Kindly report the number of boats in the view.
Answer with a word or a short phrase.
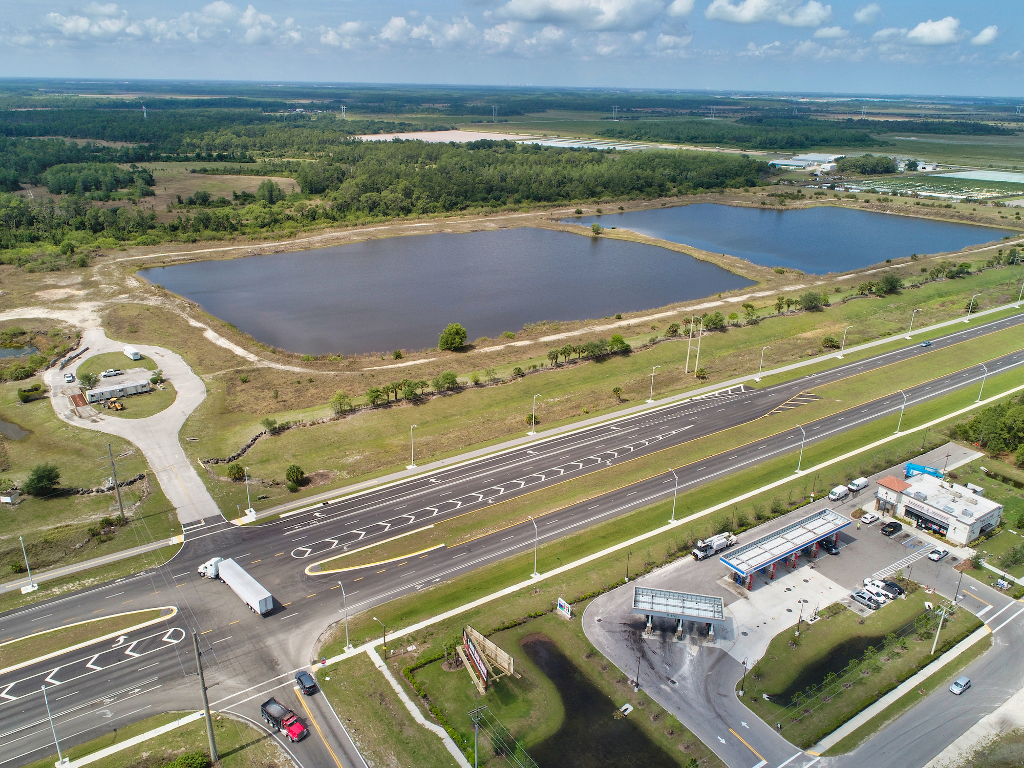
none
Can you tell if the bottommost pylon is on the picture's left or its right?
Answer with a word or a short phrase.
right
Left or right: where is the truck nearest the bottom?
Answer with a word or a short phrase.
left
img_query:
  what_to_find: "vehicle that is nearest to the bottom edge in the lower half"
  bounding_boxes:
[256,696,311,743]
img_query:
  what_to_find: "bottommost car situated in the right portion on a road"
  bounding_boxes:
[949,674,975,694]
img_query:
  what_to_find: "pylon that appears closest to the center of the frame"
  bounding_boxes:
[685,316,705,377]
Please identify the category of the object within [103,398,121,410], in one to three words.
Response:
vehicle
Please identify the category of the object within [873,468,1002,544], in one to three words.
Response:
building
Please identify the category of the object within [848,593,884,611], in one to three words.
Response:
vehicle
